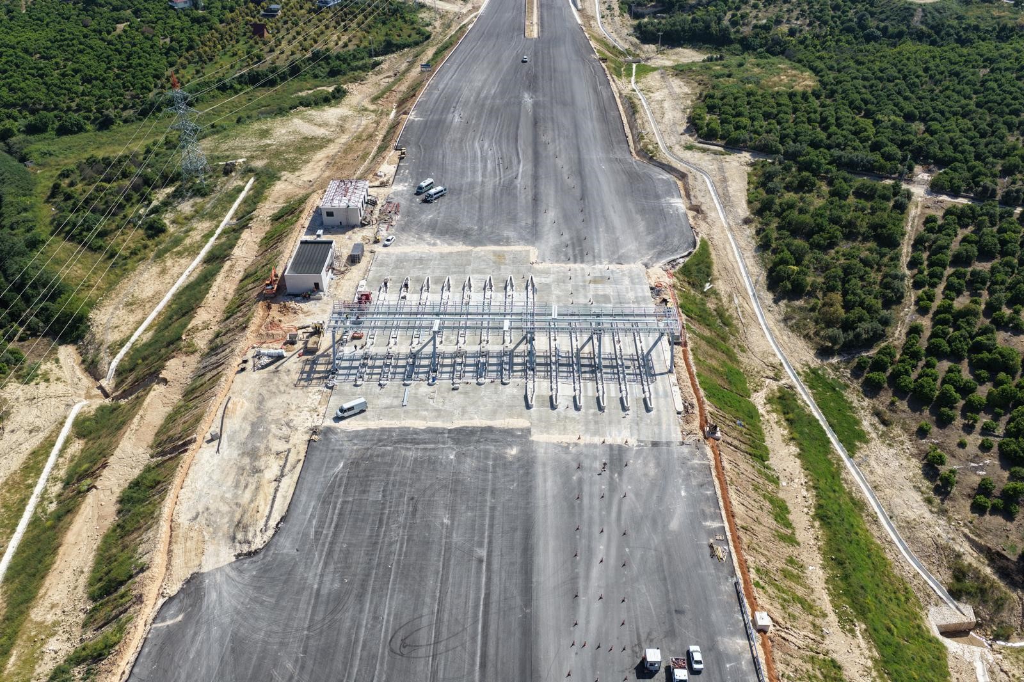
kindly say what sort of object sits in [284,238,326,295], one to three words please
building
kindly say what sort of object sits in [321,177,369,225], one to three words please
building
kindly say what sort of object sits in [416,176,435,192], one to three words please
vehicle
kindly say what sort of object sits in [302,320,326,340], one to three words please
work vehicle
